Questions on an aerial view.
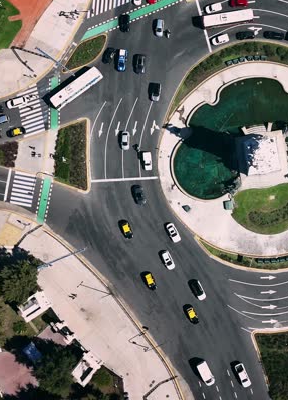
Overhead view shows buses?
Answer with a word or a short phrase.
Yes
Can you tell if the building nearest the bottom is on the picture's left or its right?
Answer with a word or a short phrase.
left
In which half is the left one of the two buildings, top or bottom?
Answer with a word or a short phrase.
bottom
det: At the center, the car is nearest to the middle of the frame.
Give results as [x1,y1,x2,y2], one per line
[133,185,146,205]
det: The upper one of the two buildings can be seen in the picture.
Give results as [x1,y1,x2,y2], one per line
[18,288,55,323]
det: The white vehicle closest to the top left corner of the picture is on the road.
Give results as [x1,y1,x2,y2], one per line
[7,95,30,109]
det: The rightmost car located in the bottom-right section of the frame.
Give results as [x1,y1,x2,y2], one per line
[236,363,250,386]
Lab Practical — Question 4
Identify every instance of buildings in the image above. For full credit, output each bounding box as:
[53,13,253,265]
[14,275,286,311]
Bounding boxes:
[76,349,106,381]
[18,288,55,323]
